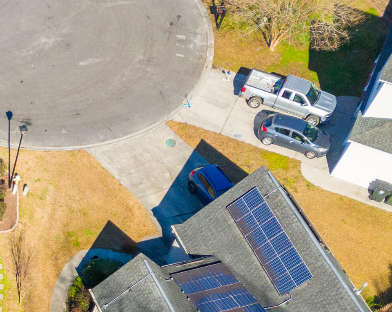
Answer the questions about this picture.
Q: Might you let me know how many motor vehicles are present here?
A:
3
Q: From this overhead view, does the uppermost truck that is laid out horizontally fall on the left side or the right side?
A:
right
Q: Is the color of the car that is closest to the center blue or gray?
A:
blue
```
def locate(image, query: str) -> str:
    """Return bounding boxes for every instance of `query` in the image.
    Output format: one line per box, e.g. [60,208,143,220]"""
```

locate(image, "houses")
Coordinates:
[330,54,392,188]
[88,163,374,312]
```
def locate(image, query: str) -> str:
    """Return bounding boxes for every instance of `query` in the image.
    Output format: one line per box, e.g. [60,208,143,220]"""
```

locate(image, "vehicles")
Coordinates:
[235,62,348,124]
[257,106,337,159]
[186,157,239,202]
